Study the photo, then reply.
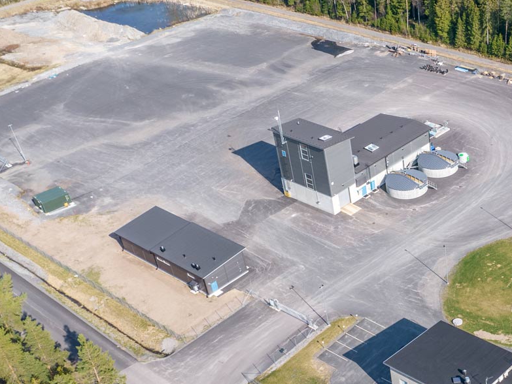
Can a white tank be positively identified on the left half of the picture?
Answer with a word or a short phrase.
No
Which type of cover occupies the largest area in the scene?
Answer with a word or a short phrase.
paved ground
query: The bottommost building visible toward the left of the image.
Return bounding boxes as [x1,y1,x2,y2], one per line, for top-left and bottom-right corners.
[109,205,249,297]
